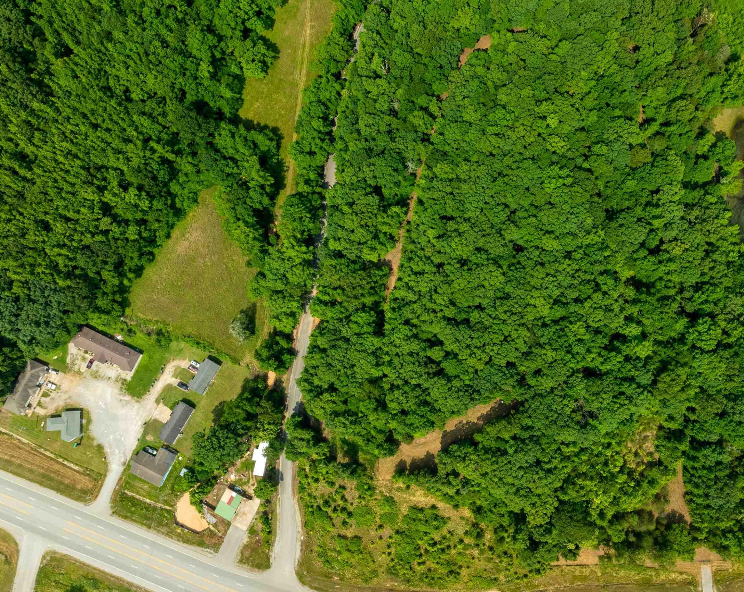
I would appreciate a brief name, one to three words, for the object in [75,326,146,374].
house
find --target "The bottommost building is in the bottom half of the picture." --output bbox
[209,489,244,521]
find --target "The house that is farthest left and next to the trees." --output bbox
[3,359,54,415]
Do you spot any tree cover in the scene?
Yes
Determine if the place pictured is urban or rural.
rural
